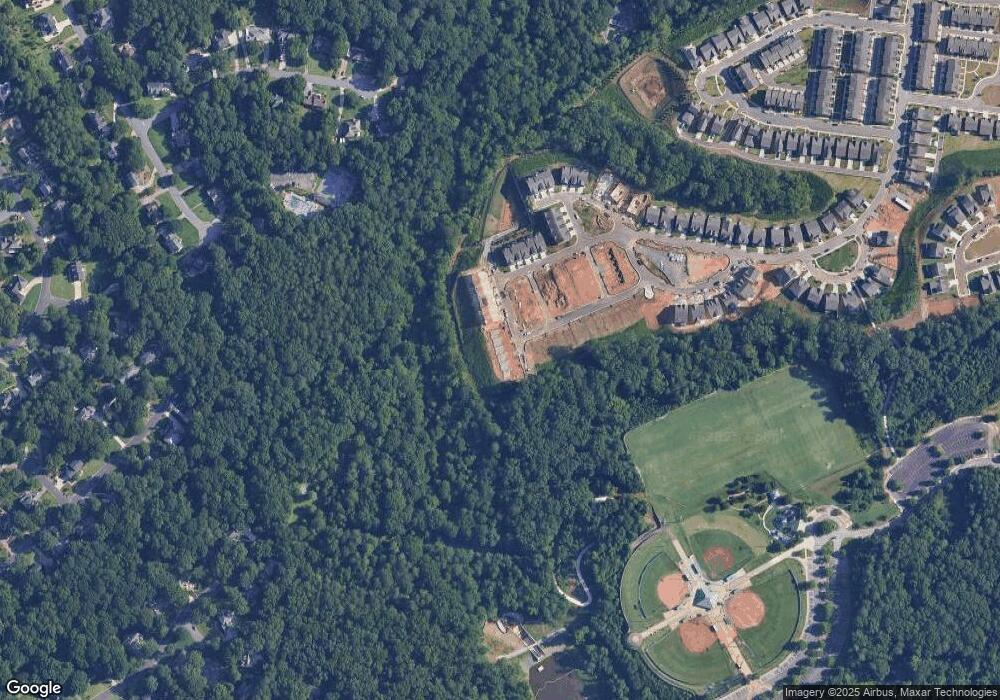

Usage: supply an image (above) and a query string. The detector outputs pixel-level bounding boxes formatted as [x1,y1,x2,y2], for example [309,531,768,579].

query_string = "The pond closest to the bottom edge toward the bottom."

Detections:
[529,652,590,700]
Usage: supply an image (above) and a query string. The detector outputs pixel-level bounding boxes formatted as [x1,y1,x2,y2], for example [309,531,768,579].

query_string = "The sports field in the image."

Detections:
[626,365,885,521]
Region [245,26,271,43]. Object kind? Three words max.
house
